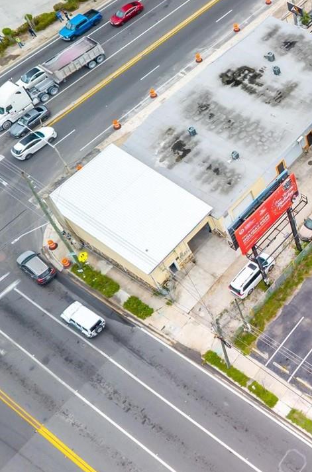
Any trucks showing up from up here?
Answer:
Yes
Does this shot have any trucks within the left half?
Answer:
Yes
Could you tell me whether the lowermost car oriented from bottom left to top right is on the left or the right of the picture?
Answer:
right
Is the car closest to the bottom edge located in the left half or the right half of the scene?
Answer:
left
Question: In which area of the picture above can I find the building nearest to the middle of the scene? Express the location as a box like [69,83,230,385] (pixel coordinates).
[49,138,215,286]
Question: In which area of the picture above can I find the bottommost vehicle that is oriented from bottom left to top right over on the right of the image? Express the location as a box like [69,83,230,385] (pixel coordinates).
[224,252,271,295]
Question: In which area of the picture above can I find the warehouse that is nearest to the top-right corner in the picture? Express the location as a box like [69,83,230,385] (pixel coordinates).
[120,13,312,231]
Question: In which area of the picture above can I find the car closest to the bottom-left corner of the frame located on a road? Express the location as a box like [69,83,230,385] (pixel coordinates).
[53,294,105,335]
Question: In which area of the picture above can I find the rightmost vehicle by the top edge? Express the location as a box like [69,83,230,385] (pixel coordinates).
[111,0,146,19]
